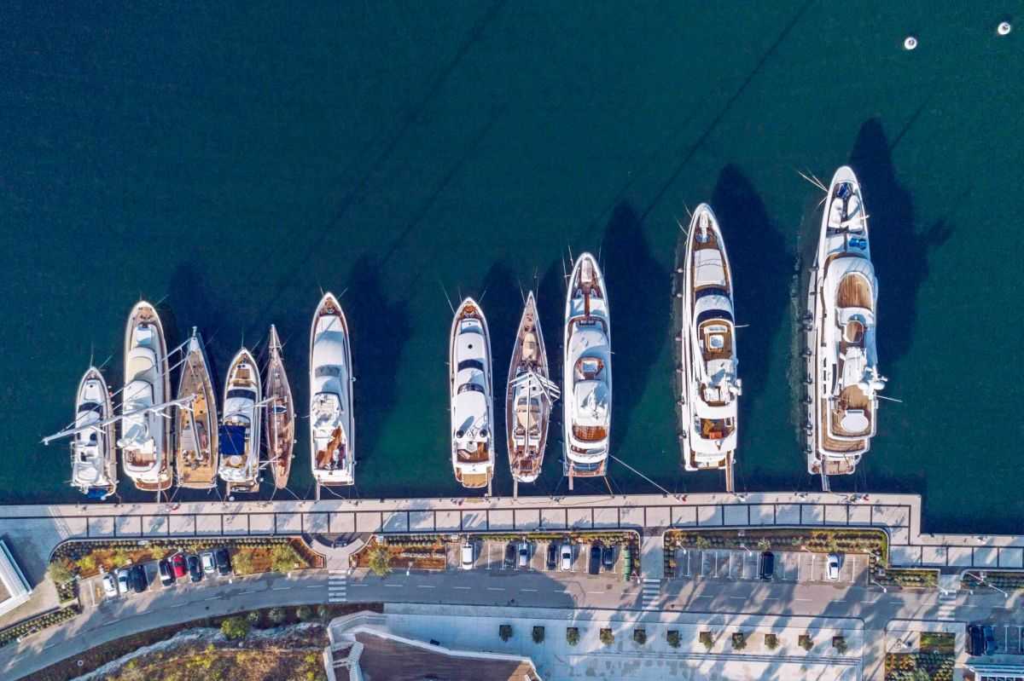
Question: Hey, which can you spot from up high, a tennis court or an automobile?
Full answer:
The image shows an automobile.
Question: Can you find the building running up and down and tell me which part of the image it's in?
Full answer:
The building running up and down is located in the bottom left region of the scene.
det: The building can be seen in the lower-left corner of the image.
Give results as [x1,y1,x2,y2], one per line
[0,536,31,611]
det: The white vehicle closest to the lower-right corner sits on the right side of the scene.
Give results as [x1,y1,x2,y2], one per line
[825,554,839,578]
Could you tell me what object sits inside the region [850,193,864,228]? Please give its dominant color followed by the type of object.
white boat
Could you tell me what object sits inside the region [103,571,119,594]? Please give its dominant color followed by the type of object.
white car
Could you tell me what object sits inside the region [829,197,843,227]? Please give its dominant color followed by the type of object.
white boat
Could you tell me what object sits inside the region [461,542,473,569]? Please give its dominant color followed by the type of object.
white vehicle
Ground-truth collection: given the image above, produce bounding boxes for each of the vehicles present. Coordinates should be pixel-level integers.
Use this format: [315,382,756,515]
[131,563,149,592]
[560,544,572,569]
[203,551,217,573]
[545,544,557,569]
[461,542,473,569]
[160,559,176,585]
[218,548,232,574]
[189,556,203,581]
[174,554,188,578]
[603,544,615,568]
[517,542,529,565]
[758,551,773,580]
[966,625,983,654]
[118,568,132,593]
[103,571,119,594]
[505,546,516,569]
[825,554,839,578]
[588,543,602,574]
